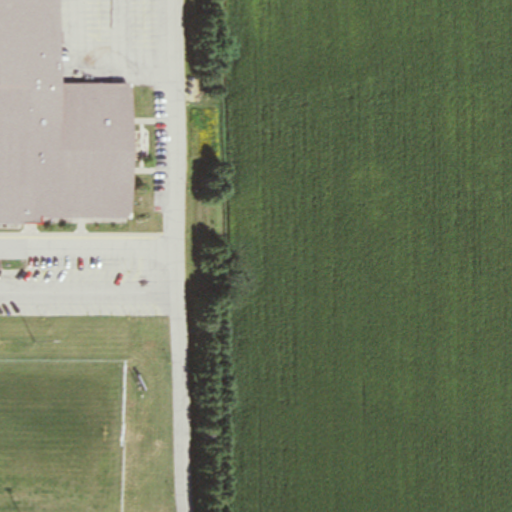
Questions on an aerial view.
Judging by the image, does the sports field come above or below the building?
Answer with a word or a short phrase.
below it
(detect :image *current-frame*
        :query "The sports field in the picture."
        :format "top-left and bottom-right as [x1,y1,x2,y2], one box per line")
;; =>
[0,360,124,512]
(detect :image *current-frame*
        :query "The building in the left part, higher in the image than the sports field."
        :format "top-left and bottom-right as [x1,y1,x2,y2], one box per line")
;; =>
[0,0,134,224]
